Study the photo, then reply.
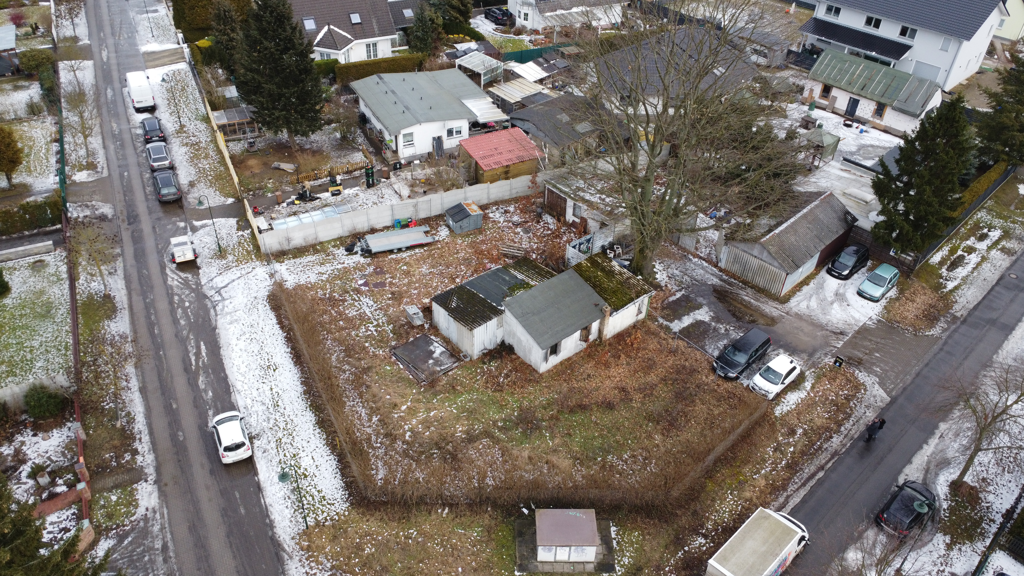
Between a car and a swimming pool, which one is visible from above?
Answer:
car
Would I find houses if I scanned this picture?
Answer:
Yes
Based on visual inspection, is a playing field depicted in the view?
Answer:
No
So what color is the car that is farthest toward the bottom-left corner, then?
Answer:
white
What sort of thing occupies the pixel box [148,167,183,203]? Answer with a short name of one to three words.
car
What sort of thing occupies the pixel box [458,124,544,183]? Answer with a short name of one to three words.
shed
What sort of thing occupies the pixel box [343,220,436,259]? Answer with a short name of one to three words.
trailer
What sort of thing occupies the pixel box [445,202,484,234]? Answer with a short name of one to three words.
shed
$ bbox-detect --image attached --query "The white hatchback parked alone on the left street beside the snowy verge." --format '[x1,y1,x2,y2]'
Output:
[207,405,252,464]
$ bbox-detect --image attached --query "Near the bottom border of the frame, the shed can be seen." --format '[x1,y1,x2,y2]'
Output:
[533,500,601,562]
